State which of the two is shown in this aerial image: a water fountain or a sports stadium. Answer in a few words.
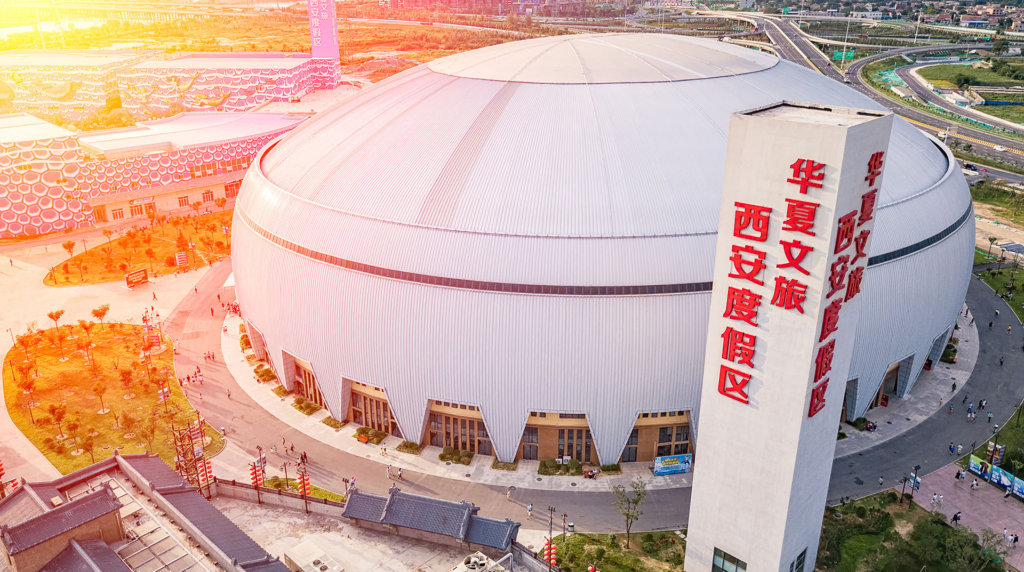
sports stadium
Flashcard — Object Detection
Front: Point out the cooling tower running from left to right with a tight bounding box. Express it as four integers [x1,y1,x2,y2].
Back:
[451,548,509,572]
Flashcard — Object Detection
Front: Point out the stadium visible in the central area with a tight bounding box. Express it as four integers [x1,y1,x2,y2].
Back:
[231,30,977,466]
